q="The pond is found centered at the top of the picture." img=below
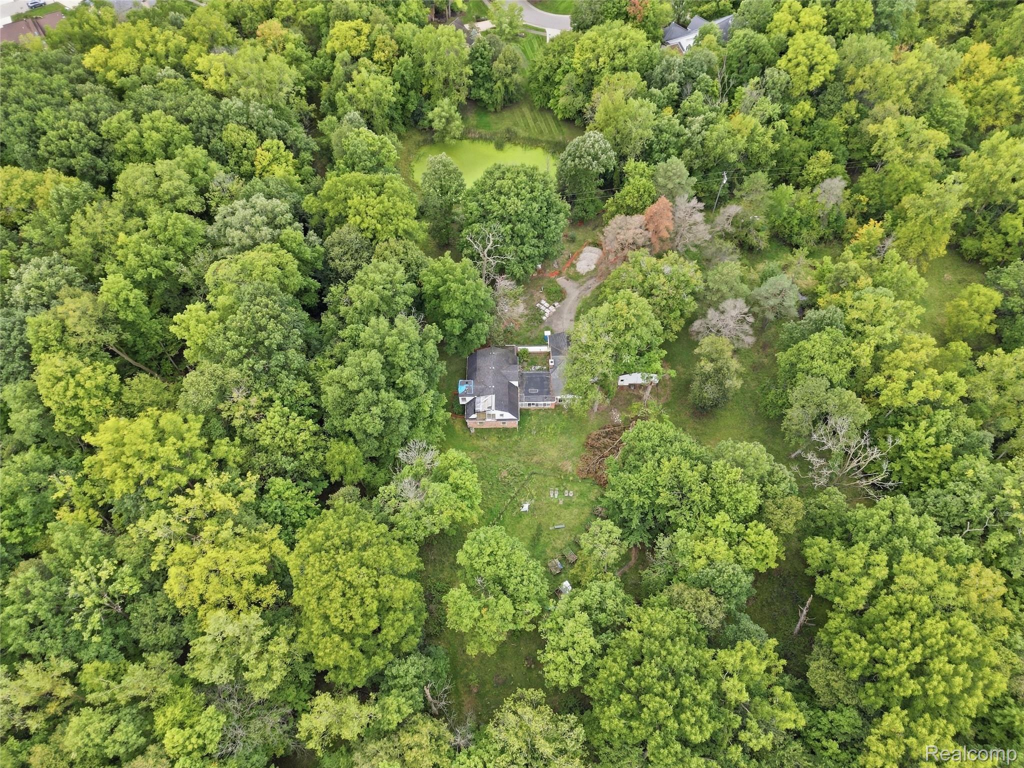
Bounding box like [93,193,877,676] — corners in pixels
[413,142,560,189]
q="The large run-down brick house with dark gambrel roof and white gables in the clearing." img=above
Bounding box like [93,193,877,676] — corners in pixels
[459,343,552,428]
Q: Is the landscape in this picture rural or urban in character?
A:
rural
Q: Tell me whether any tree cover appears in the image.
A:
Yes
